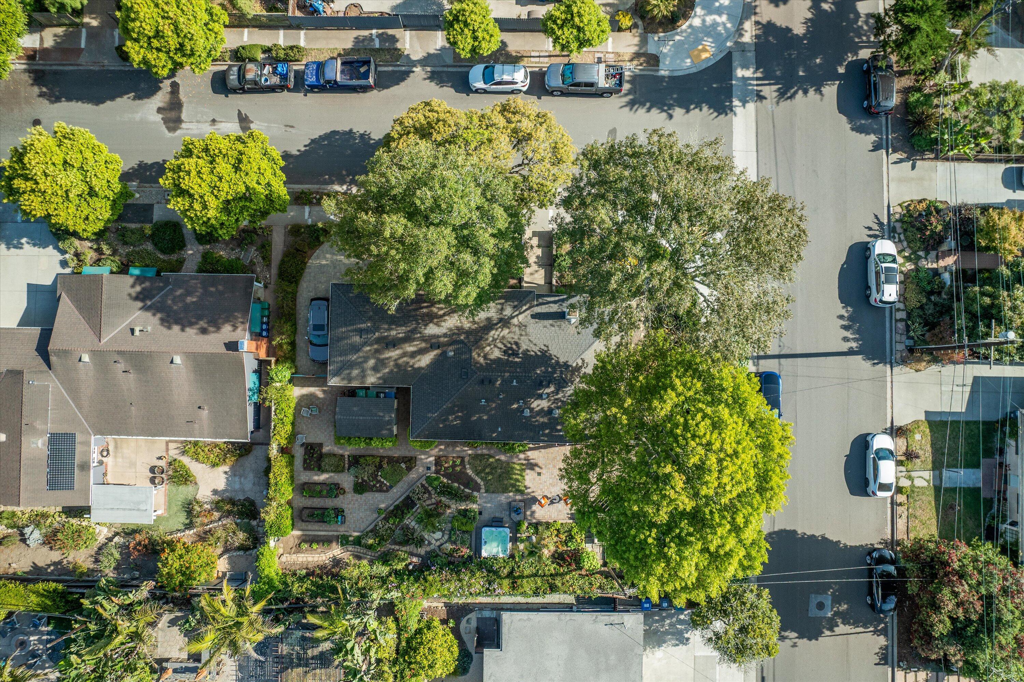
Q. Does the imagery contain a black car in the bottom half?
Yes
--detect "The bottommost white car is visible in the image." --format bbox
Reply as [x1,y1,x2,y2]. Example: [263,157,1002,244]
[867,434,902,498]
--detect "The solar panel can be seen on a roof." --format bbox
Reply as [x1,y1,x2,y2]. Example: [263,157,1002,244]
[45,433,77,490]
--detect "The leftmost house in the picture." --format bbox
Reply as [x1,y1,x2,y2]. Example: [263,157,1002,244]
[0,272,267,507]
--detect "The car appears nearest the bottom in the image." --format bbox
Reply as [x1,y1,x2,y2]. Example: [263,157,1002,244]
[868,549,900,616]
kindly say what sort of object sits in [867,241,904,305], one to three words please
car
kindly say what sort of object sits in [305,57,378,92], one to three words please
truck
